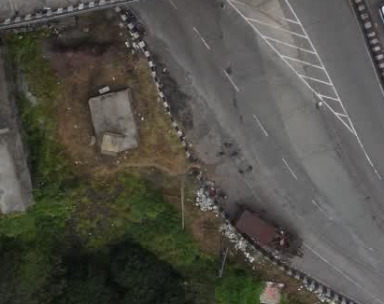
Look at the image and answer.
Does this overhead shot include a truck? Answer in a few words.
Yes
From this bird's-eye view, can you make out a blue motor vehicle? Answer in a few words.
No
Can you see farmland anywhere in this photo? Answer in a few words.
No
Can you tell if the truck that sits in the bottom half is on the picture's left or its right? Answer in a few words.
right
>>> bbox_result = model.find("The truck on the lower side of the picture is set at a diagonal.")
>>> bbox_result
[233,204,298,256]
